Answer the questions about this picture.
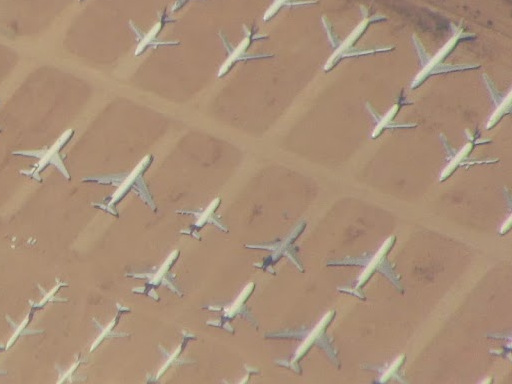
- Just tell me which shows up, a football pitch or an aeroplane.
aeroplane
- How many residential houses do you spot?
0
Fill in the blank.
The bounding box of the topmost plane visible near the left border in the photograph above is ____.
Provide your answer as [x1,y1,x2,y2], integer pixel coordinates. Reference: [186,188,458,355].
[12,129,73,181]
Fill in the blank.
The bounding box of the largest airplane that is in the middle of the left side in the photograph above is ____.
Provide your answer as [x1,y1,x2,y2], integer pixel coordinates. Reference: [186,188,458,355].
[82,154,157,217]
